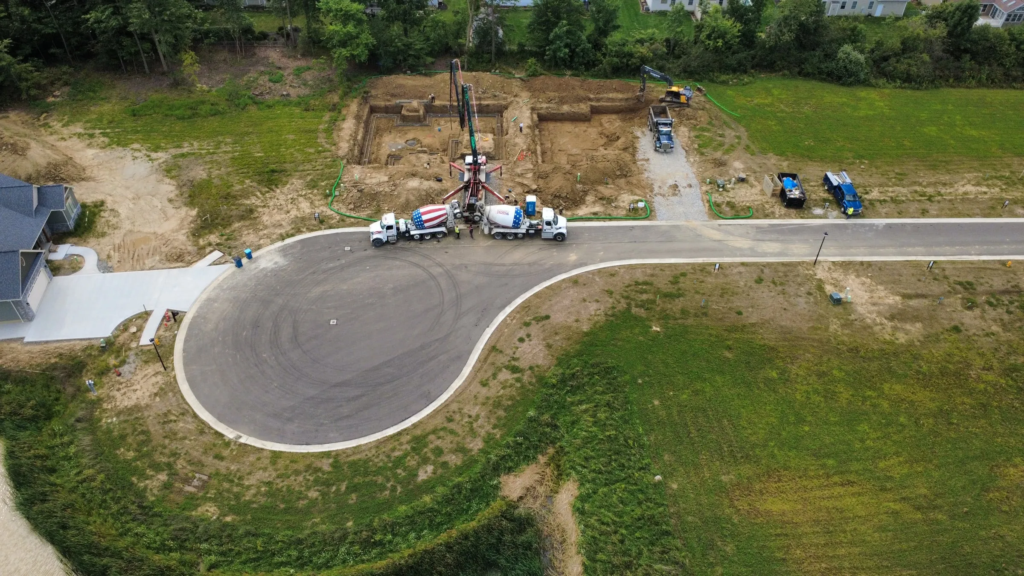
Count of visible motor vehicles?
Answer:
six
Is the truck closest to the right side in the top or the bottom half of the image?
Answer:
top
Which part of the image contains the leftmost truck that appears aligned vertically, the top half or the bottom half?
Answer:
top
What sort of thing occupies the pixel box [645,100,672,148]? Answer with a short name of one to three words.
truck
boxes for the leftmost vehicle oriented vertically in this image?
[442,59,507,216]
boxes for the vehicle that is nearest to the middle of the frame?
[474,202,569,242]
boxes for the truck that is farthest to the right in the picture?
[827,167,864,211]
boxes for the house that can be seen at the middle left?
[0,173,81,324]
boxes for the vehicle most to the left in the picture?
[367,200,462,247]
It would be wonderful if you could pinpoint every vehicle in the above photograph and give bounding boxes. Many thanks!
[442,59,507,216]
[474,202,569,242]
[827,167,864,211]
[367,200,462,247]
[645,100,672,148]
[635,65,695,108]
